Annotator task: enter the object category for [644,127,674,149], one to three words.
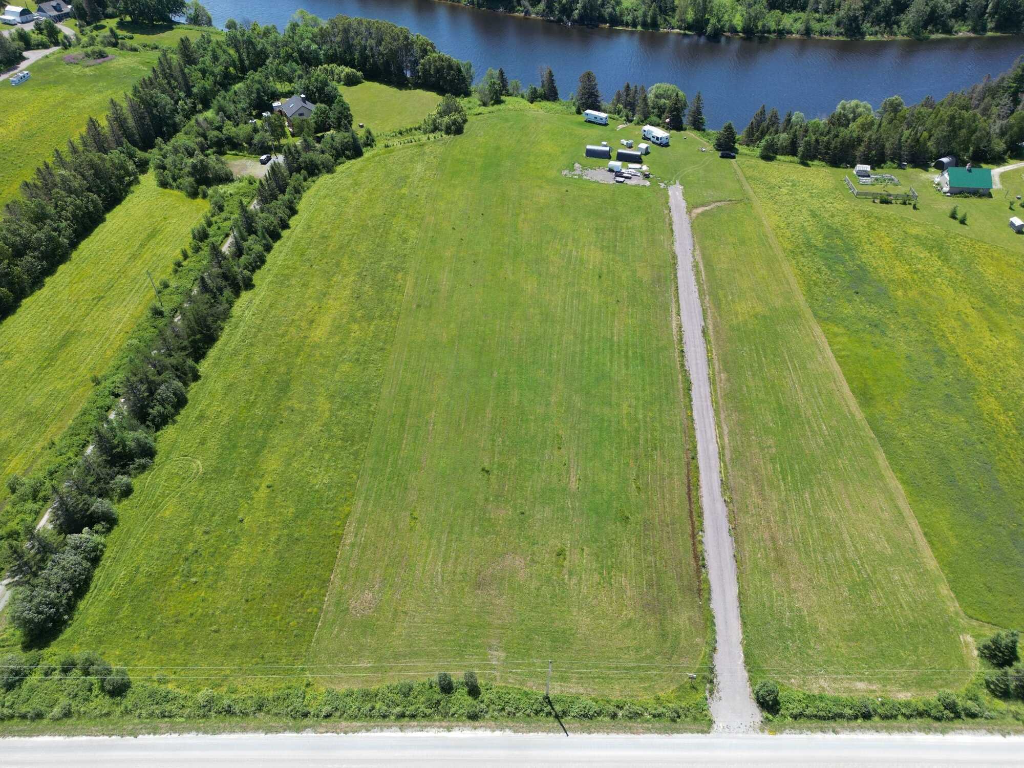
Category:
vehicle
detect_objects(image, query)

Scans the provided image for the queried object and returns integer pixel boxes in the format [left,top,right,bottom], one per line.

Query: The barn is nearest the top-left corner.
[3,2,36,24]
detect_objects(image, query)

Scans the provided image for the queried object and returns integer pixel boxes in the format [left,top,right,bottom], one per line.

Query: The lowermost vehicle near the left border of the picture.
[3,68,30,84]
